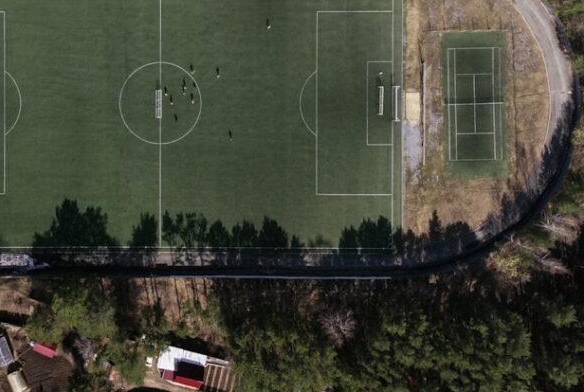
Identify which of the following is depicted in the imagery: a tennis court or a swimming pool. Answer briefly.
tennis court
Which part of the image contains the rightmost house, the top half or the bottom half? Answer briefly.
bottom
